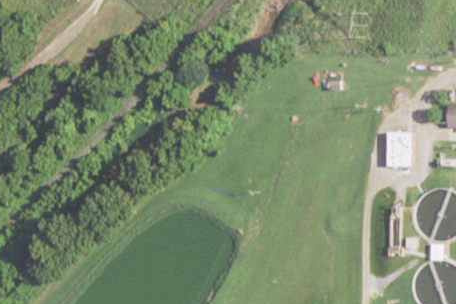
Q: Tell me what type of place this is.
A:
industrial area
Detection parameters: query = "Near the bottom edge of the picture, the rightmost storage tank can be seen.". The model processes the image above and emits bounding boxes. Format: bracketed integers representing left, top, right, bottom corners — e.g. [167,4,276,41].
[412,260,456,304]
